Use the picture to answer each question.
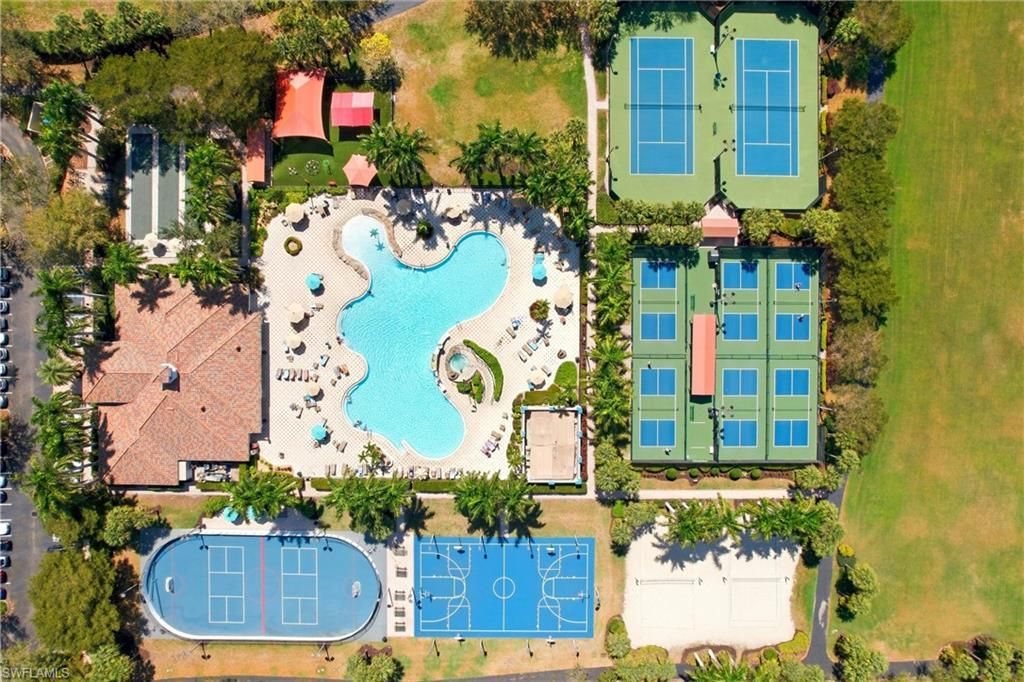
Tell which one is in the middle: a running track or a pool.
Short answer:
pool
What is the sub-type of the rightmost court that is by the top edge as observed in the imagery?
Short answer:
tennis court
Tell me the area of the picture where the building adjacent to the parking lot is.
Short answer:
left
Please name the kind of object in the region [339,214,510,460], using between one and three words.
swimming pool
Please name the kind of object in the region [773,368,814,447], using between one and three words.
sports court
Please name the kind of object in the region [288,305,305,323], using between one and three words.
umbrella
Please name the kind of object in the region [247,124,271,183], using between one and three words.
shed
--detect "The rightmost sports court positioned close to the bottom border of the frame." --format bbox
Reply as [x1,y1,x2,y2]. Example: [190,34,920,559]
[623,518,802,654]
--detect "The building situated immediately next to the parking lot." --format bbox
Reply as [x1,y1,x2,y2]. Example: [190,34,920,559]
[81,283,265,485]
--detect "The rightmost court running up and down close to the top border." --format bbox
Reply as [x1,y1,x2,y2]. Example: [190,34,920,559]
[718,5,819,209]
